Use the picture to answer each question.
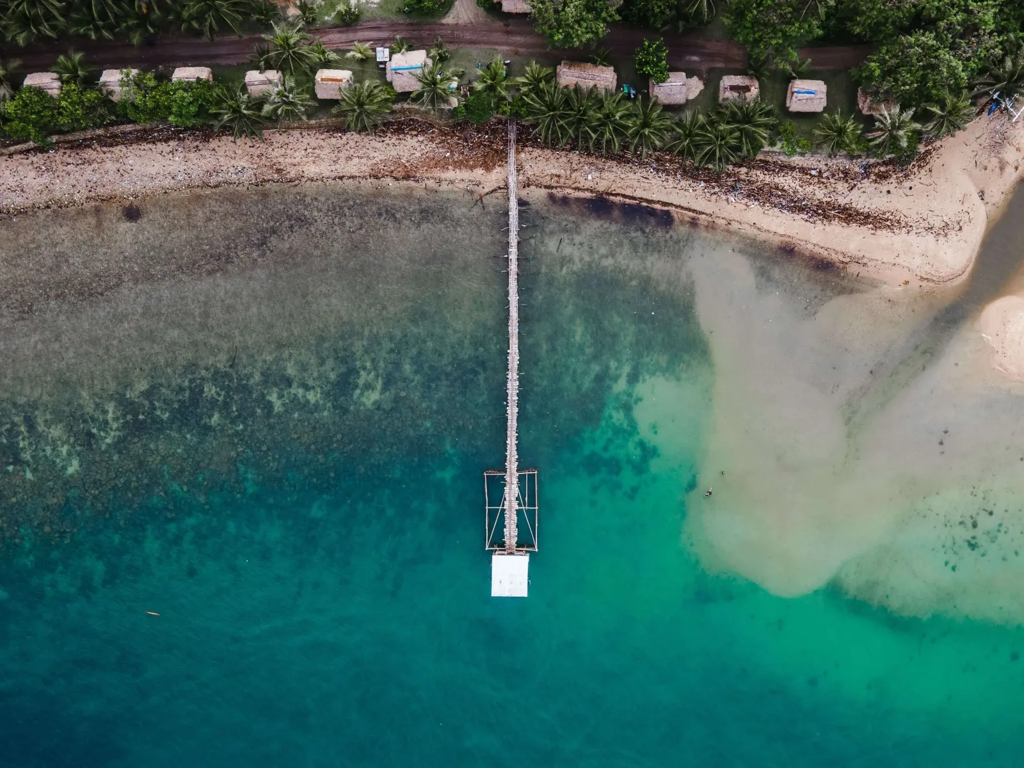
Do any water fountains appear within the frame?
No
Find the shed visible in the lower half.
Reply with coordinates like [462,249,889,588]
[491,538,532,596]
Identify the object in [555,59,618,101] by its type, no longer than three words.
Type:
shed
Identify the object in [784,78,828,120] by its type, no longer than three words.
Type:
shed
